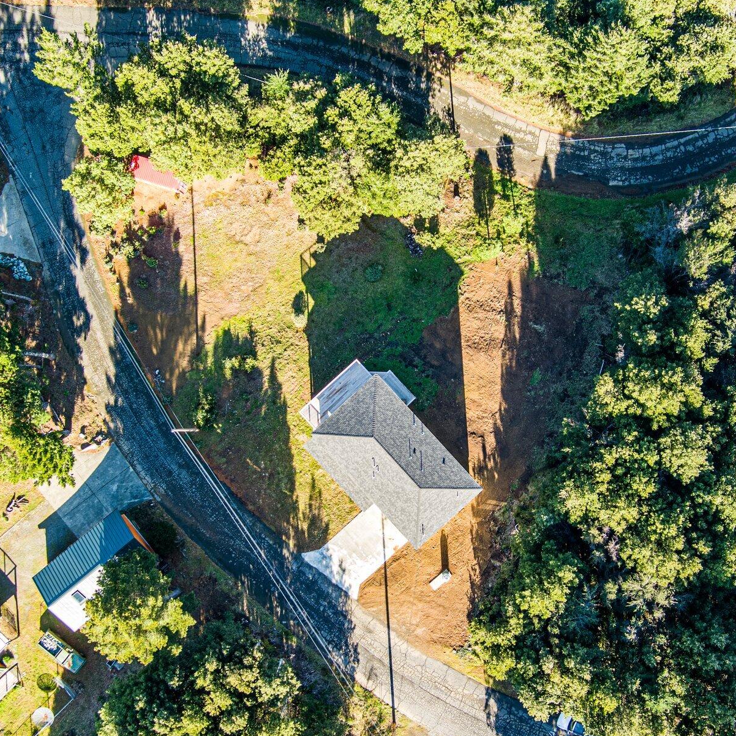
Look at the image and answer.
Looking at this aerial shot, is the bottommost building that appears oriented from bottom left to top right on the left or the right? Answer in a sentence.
It is on the left.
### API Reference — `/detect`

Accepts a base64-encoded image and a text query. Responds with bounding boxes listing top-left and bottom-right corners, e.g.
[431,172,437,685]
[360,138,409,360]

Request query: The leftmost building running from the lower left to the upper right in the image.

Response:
[32,512,153,620]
